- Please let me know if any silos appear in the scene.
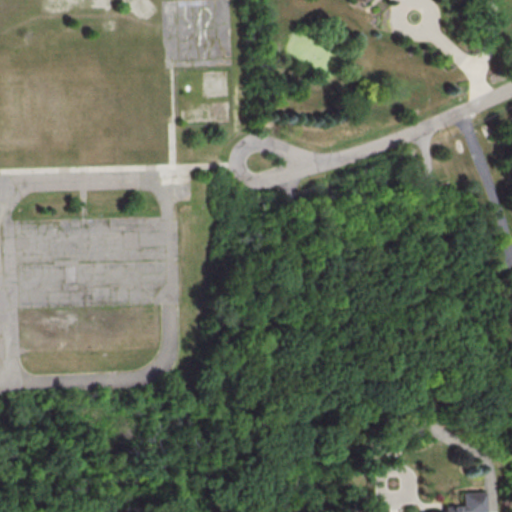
No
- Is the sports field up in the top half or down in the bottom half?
top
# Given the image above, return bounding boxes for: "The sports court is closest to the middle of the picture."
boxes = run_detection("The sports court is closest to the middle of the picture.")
[182,102,230,123]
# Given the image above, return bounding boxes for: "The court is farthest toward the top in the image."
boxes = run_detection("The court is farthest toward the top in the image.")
[162,0,231,68]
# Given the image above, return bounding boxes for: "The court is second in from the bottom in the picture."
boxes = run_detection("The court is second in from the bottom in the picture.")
[203,70,228,98]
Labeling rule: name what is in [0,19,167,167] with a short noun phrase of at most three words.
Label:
sports field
